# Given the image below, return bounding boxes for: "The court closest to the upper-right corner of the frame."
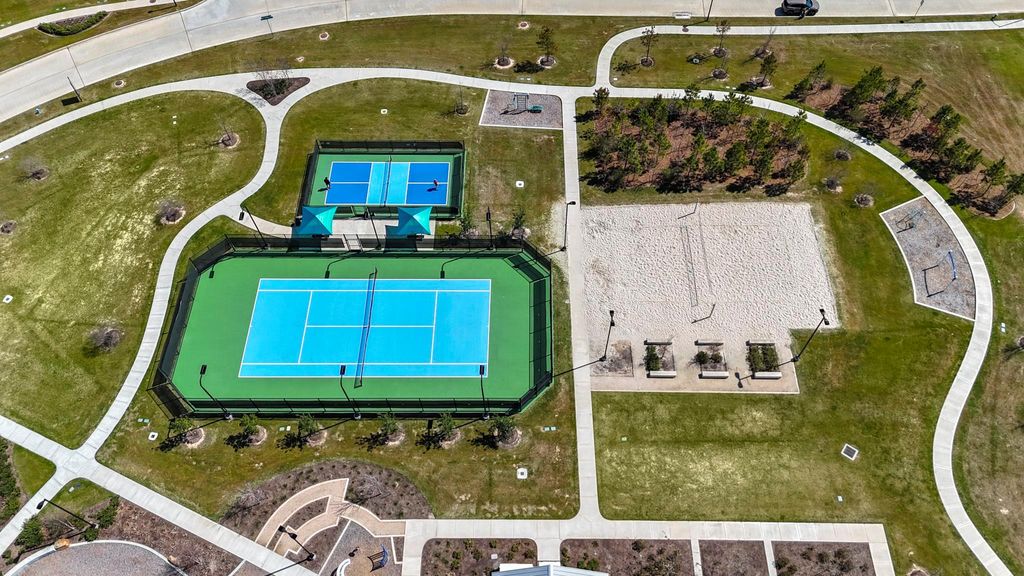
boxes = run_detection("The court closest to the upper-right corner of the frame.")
[580,203,839,336]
